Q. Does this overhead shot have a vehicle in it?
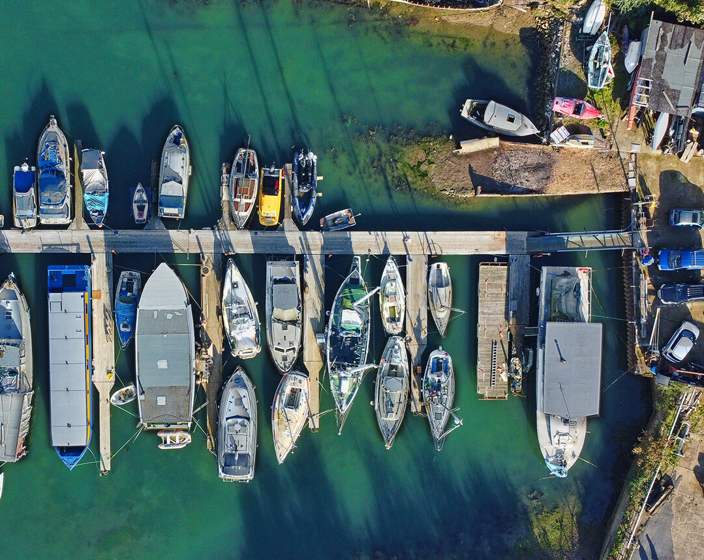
Yes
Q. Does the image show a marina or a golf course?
marina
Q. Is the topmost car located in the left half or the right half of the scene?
right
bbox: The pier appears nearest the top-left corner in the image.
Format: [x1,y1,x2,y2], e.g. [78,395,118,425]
[67,140,90,230]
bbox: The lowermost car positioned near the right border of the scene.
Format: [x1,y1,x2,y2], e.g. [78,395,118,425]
[659,320,699,365]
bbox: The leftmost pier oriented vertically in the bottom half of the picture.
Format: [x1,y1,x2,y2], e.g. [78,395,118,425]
[91,254,114,470]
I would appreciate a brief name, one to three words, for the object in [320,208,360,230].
boat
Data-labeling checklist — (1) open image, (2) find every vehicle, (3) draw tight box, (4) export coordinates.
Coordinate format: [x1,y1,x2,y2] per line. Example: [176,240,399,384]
[655,281,704,306]
[659,320,699,365]
[665,206,704,231]
[655,247,704,272]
